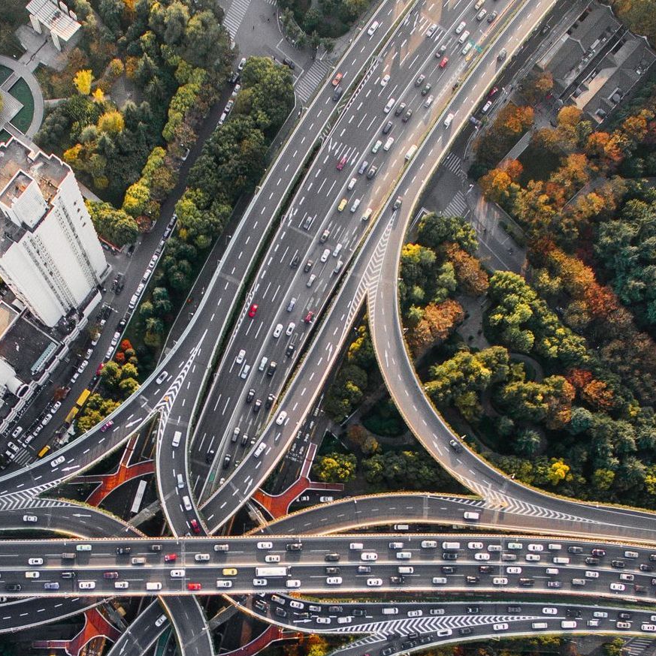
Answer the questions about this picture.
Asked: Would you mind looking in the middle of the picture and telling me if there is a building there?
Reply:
No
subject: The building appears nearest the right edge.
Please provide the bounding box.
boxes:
[611,31,656,77]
